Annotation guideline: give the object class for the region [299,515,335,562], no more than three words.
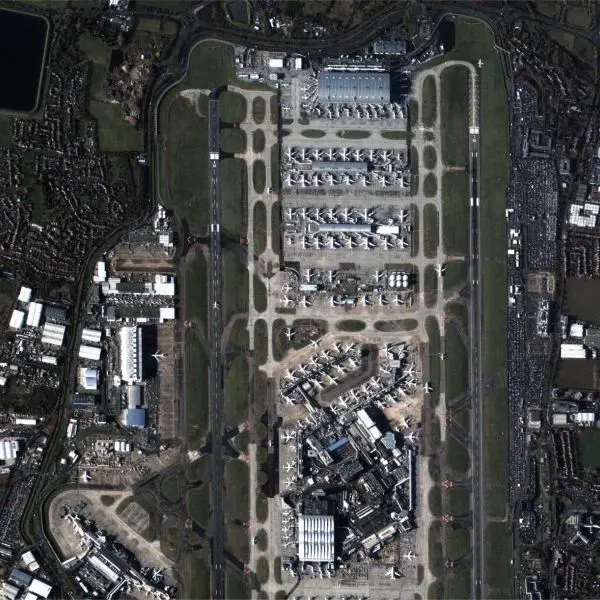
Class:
building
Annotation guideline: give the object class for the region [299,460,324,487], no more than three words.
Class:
building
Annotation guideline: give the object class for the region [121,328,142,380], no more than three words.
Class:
hangar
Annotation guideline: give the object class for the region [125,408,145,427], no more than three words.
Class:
hangar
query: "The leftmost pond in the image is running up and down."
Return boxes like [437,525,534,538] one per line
[0,9,47,111]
